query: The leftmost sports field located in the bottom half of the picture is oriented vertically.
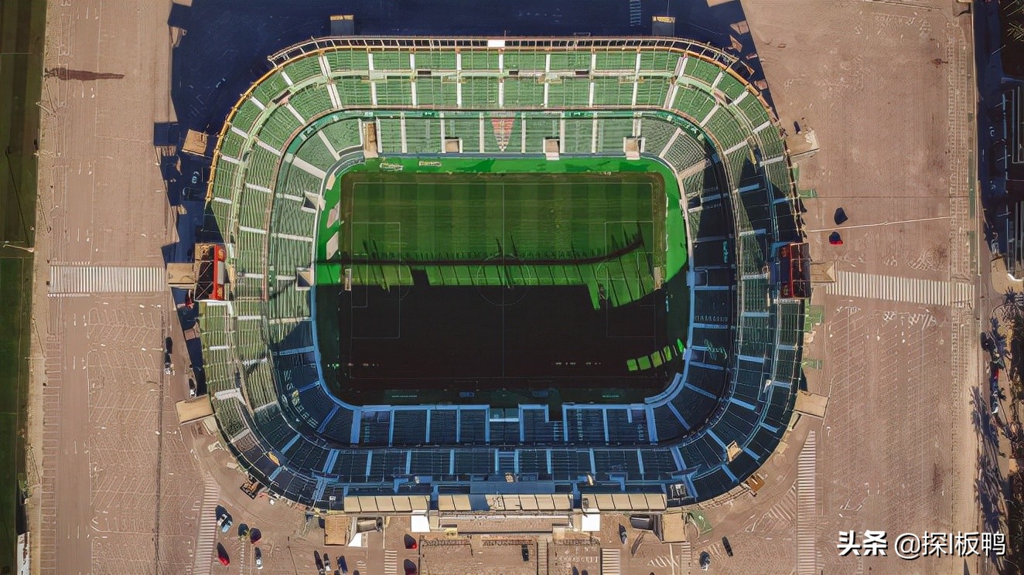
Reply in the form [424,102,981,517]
[0,258,34,575]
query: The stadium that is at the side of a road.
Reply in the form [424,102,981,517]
[167,15,835,552]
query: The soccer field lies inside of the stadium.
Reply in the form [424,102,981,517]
[316,158,691,405]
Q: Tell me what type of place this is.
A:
sports ground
